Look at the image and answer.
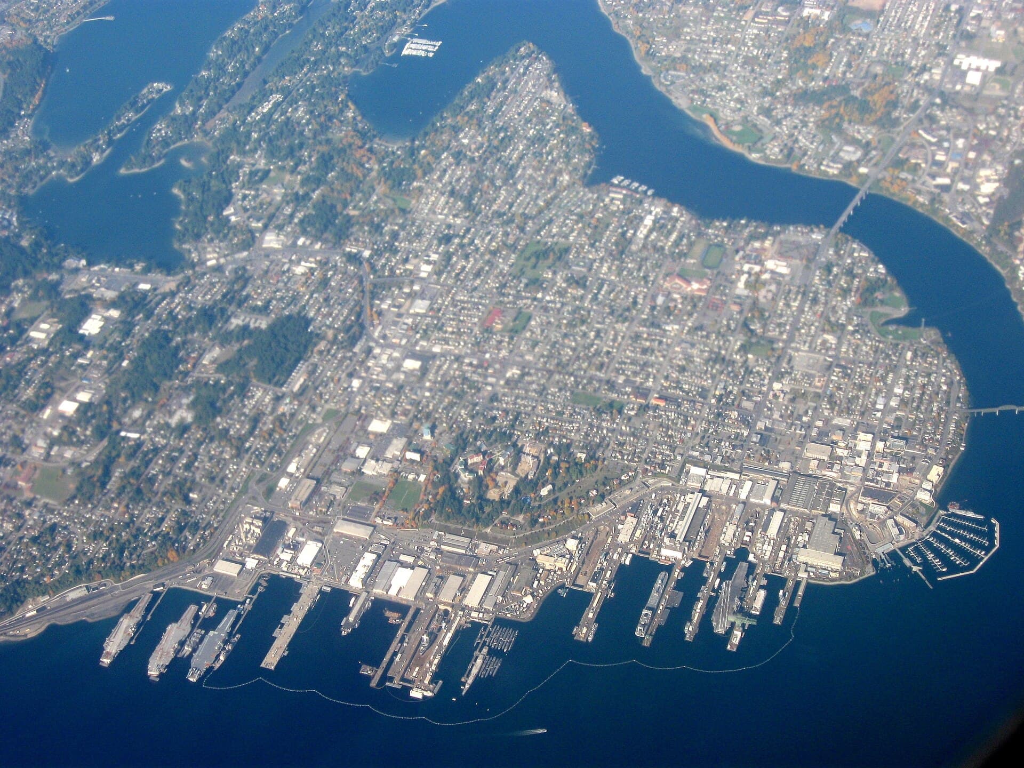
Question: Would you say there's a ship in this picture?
Yes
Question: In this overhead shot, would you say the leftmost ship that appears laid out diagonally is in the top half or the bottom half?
bottom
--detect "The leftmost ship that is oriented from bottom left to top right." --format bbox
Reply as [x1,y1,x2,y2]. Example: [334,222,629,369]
[101,593,152,664]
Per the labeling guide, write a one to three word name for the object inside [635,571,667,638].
ship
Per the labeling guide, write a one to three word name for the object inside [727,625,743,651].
ship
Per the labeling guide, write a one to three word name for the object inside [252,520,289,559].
building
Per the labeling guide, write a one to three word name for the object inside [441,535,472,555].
building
